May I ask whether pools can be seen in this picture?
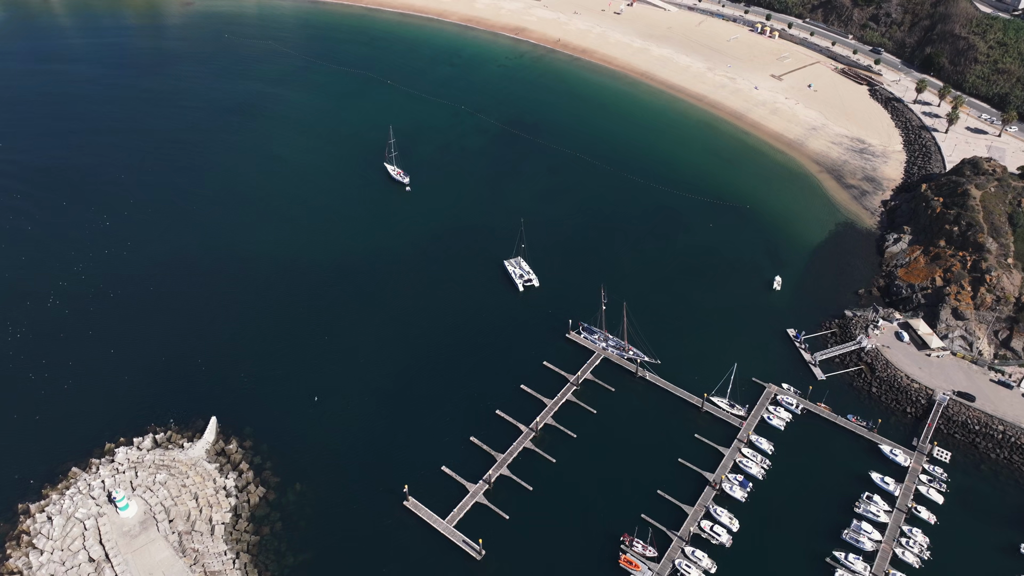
No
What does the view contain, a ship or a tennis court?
ship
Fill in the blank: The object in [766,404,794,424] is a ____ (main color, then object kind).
white boat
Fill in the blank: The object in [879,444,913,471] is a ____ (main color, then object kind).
white boat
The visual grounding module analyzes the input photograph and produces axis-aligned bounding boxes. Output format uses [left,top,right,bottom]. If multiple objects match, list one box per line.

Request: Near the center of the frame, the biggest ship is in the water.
[578,286,662,361]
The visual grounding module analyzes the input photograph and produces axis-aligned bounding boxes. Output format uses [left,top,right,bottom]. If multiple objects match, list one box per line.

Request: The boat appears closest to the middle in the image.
[503,235,541,293]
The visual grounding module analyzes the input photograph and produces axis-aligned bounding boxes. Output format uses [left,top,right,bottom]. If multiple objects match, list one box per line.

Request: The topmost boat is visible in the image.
[385,130,412,186]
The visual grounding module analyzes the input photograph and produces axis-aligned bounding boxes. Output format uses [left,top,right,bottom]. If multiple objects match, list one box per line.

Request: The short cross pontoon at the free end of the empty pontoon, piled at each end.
[402,496,486,561]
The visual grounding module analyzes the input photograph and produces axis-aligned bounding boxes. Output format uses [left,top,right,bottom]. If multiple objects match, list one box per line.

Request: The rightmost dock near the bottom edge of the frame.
[826,444,953,576]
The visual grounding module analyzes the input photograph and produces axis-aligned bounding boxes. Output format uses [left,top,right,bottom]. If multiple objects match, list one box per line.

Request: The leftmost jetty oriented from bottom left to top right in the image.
[443,352,614,526]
